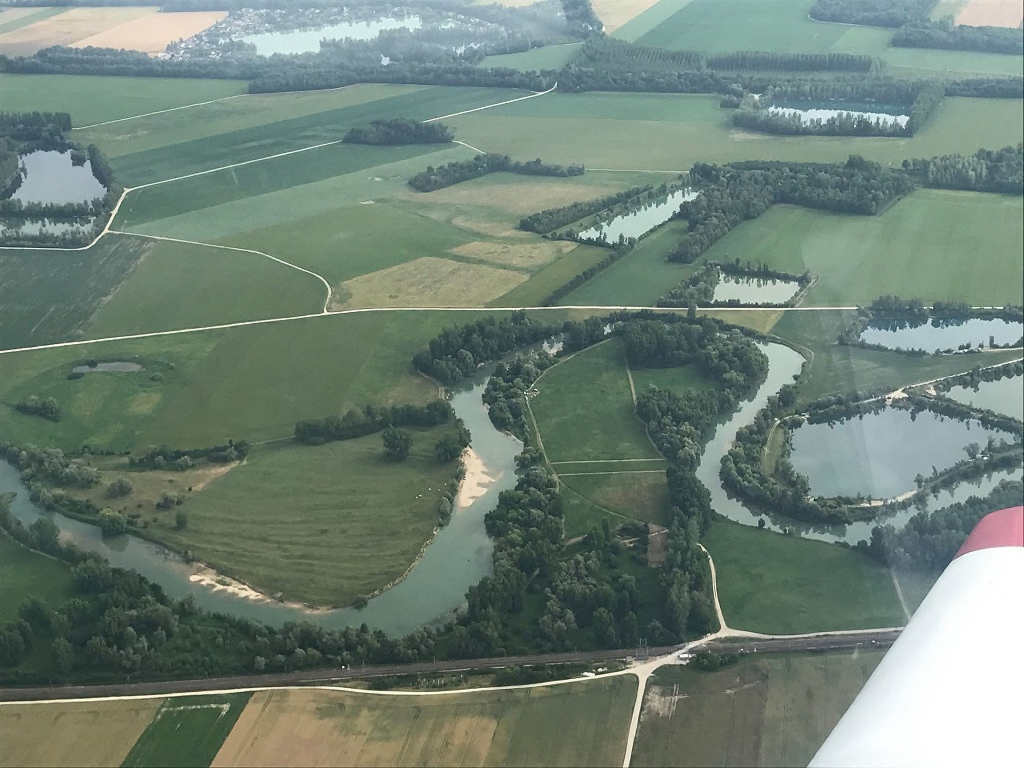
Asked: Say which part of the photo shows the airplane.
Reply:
bottom right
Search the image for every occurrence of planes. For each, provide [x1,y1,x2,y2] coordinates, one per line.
[806,504,1024,768]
